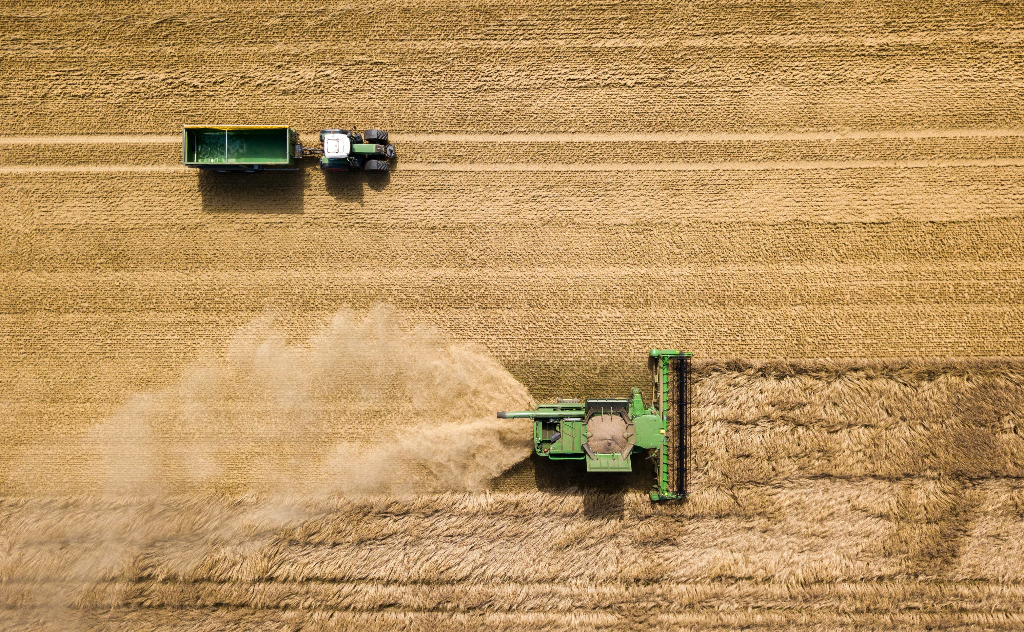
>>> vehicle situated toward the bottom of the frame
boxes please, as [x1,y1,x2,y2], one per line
[497,349,693,500]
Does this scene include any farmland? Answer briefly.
Yes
